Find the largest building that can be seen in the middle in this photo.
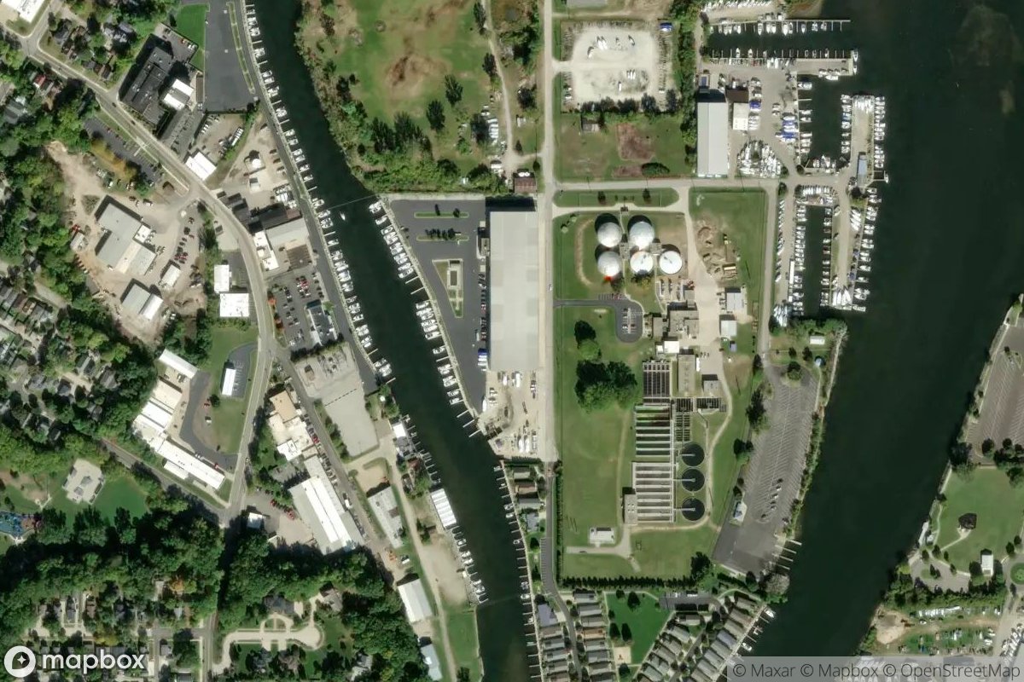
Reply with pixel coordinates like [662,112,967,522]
[490,212,538,370]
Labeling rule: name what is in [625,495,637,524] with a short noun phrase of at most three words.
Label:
building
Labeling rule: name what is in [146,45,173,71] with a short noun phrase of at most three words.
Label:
building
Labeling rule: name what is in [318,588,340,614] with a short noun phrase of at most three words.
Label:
house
